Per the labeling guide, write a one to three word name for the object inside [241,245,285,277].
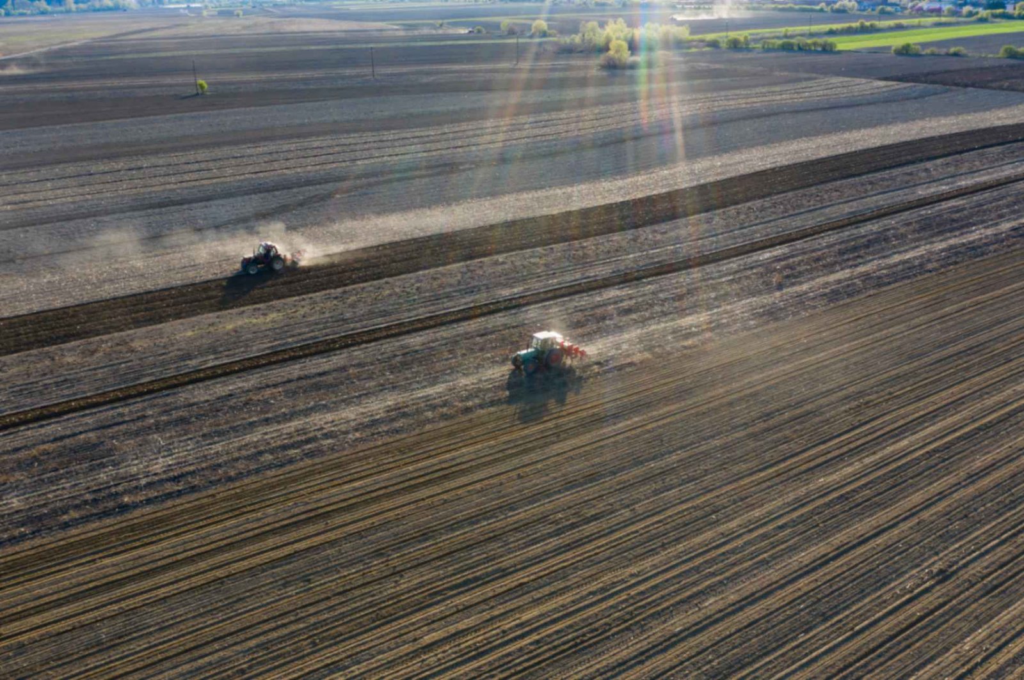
work vehicle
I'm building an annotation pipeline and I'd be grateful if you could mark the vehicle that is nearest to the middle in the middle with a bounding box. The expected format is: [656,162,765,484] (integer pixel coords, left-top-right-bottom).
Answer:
[515,335,568,377]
